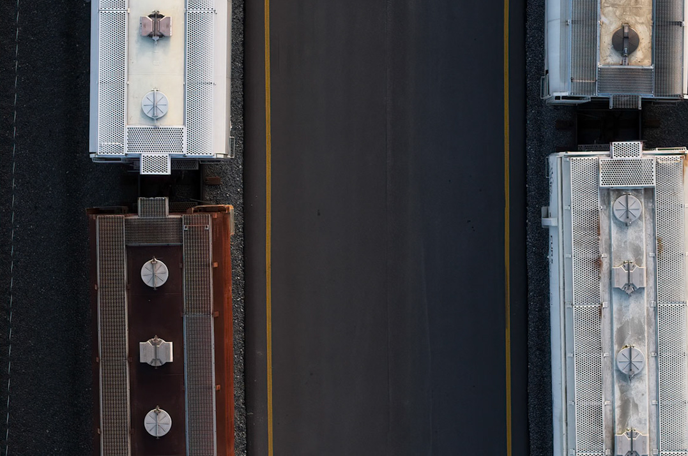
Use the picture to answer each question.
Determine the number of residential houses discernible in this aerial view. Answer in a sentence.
No residential houses are visible.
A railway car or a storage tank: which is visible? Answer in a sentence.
It is a railway car that can be seen here.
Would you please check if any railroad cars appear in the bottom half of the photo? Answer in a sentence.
Yes, a railroad car shows up in the bottom half of the photo.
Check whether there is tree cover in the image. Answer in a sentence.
No, there's no tree cover in this view.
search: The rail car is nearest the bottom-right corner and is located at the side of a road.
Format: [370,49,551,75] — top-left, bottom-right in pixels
[539,123,688,456]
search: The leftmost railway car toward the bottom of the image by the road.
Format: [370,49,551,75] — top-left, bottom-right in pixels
[84,177,240,456]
